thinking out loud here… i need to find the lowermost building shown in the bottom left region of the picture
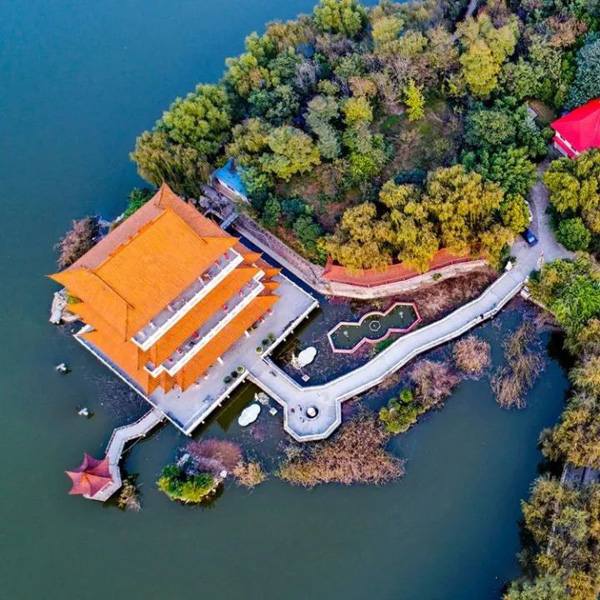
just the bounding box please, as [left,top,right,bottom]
[60,448,122,507]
